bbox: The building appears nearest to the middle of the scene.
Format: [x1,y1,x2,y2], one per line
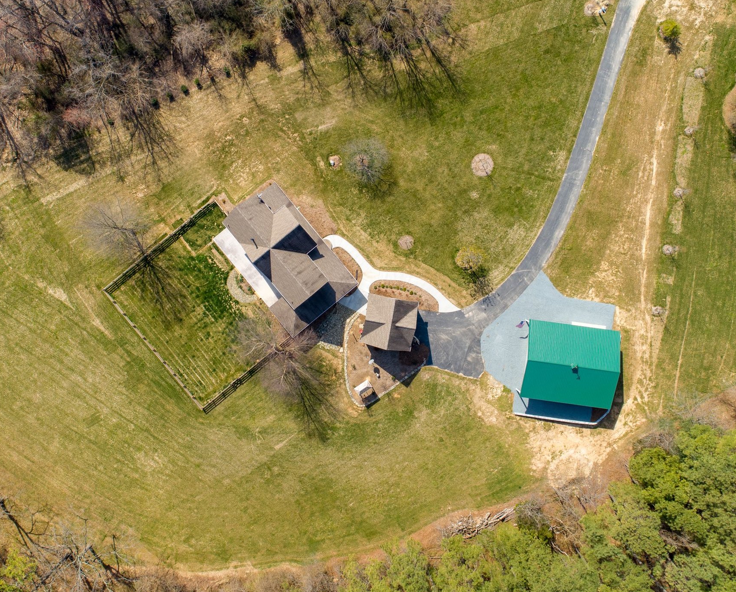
[360,292,422,352]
